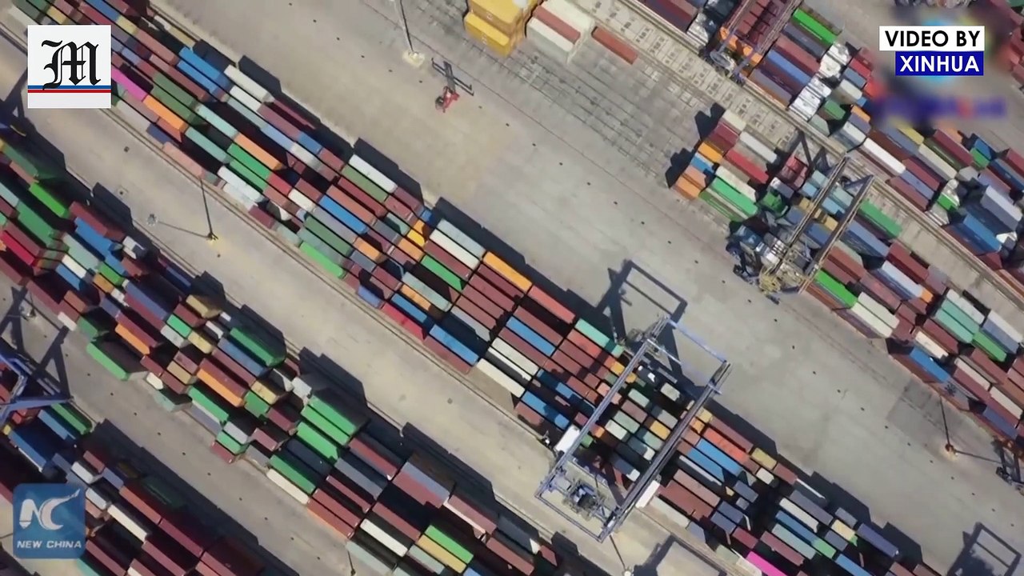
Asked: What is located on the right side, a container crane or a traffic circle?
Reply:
container crane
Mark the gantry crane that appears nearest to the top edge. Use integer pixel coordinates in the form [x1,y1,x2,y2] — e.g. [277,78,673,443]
[703,0,809,86]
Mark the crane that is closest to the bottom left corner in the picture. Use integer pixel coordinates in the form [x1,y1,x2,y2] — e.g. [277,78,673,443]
[0,361,92,440]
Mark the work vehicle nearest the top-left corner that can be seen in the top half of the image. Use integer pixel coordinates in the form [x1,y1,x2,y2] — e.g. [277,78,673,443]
[421,64,461,112]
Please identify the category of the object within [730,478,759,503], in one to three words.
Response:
shipping container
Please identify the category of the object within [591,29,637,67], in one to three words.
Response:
shipping container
